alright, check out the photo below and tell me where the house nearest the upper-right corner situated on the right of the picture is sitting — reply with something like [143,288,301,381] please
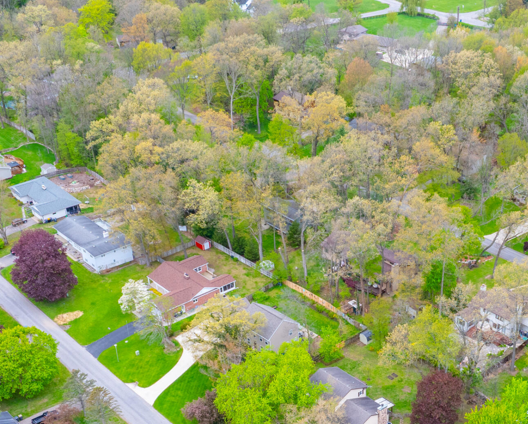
[339,26,400,49]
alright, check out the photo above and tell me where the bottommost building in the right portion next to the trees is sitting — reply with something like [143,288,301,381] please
[306,364,398,424]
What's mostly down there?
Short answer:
trees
